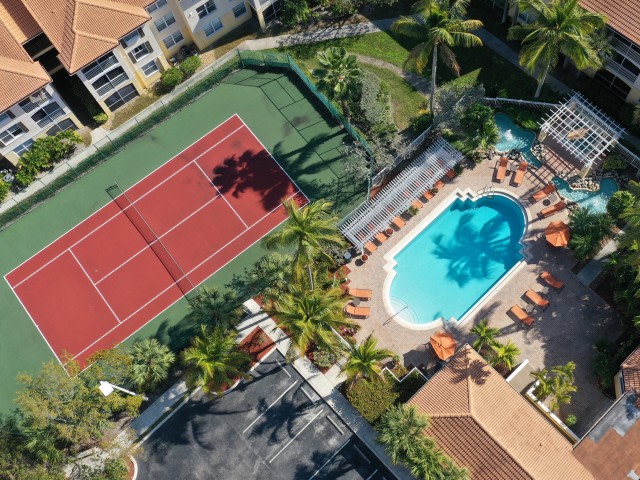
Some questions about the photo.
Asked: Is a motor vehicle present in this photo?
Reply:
No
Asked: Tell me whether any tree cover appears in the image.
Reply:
Yes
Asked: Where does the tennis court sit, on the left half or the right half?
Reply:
left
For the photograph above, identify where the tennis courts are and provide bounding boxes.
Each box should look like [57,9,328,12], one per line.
[0,66,372,455]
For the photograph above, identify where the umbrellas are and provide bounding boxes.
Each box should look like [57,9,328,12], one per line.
[542,224,571,251]
[426,331,459,364]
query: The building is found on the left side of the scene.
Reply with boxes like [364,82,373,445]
[0,0,304,183]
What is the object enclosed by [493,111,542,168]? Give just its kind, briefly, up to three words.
swimming pool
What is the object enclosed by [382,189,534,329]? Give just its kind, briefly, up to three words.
swimming pool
